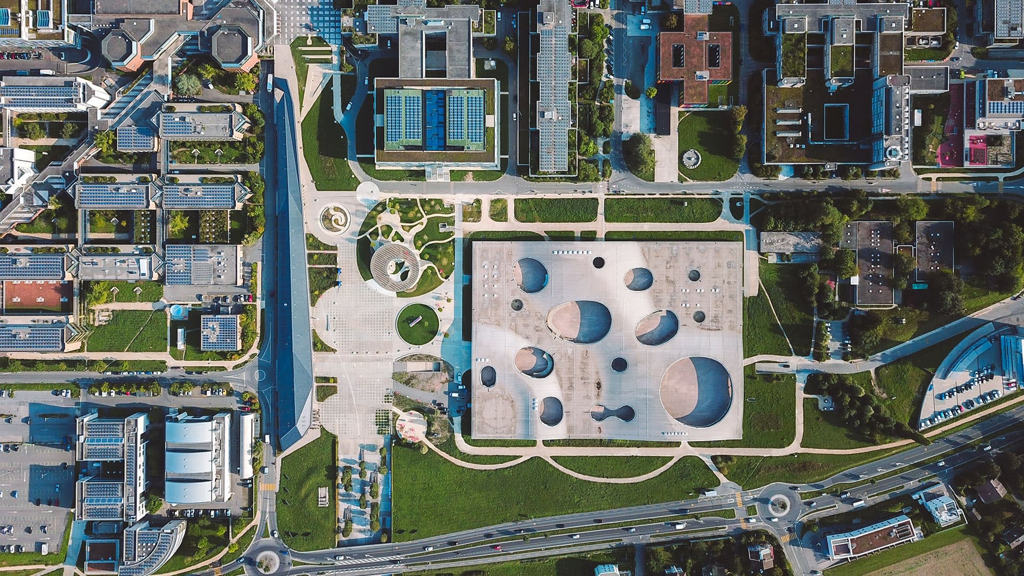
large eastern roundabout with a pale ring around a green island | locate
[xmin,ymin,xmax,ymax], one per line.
[758,483,801,527]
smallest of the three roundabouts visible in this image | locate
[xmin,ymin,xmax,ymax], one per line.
[244,360,275,391]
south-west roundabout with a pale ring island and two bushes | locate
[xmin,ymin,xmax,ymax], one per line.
[245,540,291,576]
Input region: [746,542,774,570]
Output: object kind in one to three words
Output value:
house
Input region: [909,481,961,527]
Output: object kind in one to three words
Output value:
house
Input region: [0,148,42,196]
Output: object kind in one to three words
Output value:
building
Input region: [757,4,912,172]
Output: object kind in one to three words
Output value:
building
